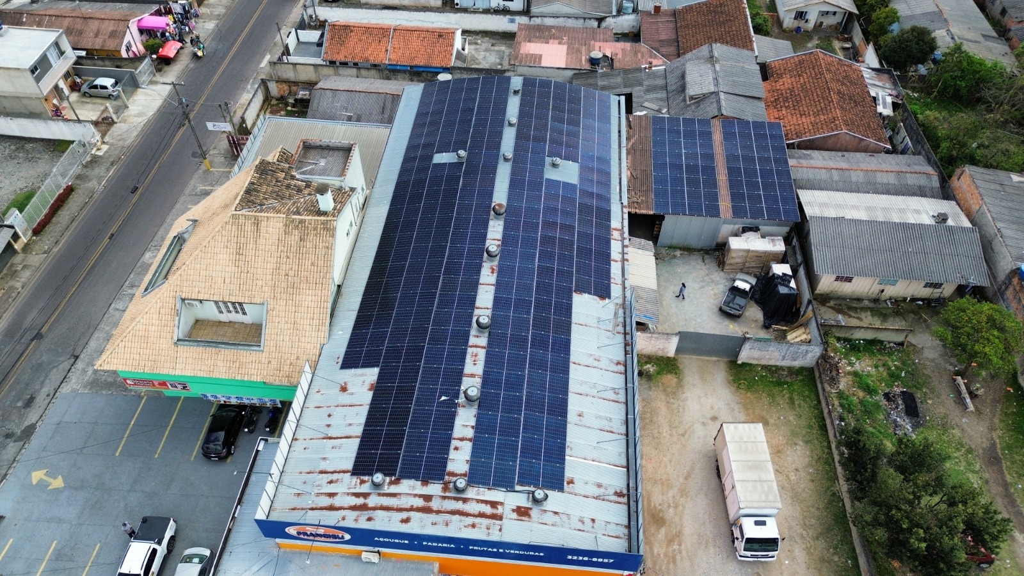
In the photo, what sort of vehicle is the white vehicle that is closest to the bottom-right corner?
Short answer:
truck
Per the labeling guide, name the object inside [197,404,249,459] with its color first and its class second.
black car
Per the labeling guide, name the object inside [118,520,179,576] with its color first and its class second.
white truck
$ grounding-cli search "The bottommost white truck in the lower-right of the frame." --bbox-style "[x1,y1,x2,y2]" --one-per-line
[715,420,789,566]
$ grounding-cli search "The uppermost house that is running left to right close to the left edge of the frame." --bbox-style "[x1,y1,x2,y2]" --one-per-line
[0,0,165,69]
